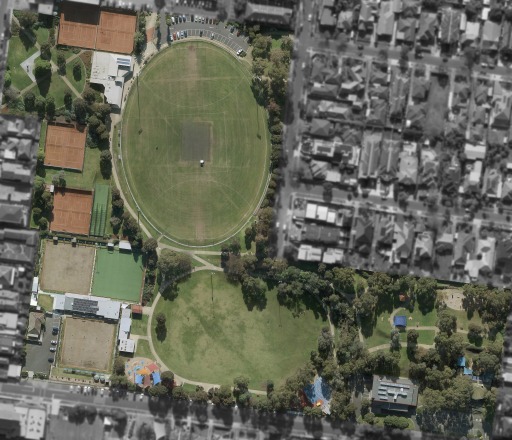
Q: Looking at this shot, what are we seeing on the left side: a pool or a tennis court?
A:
tennis court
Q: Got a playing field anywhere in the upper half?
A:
Yes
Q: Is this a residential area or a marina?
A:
residential area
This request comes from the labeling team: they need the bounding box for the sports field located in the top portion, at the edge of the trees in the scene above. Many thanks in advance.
[120,40,272,246]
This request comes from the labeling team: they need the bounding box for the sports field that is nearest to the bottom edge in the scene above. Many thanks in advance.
[151,268,328,391]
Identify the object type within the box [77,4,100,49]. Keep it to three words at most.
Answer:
tennis court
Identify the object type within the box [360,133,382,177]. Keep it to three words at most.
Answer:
house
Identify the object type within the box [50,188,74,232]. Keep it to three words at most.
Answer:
tennis court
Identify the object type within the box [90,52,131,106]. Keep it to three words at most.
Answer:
building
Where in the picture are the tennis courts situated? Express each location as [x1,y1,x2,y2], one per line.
[44,125,68,167]
[50,188,74,232]
[77,4,100,49]
[70,190,94,234]
[96,12,119,52]
[114,14,136,54]
[58,2,82,46]
[64,127,87,169]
